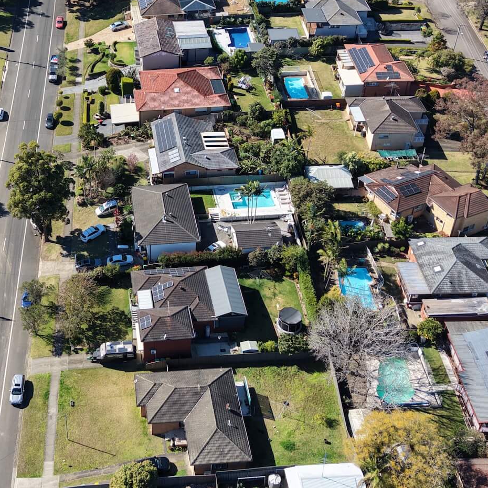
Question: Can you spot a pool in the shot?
Yes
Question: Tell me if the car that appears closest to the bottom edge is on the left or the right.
left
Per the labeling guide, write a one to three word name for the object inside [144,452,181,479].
car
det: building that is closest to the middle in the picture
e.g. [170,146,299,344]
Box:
[228,222,281,260]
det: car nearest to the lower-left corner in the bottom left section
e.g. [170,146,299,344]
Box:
[8,375,24,406]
